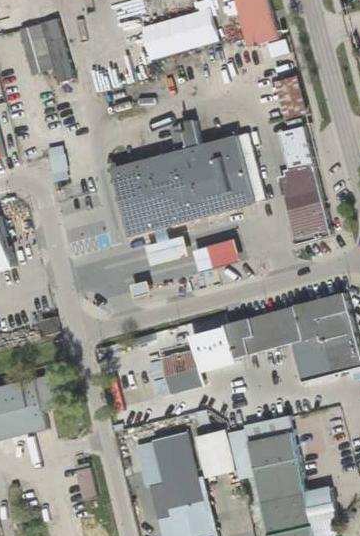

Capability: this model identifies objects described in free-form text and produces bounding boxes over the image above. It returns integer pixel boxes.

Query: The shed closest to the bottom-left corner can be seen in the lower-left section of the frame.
[78,468,100,500]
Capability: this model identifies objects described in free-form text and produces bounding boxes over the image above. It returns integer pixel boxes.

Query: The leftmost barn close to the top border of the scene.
[22,18,79,83]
